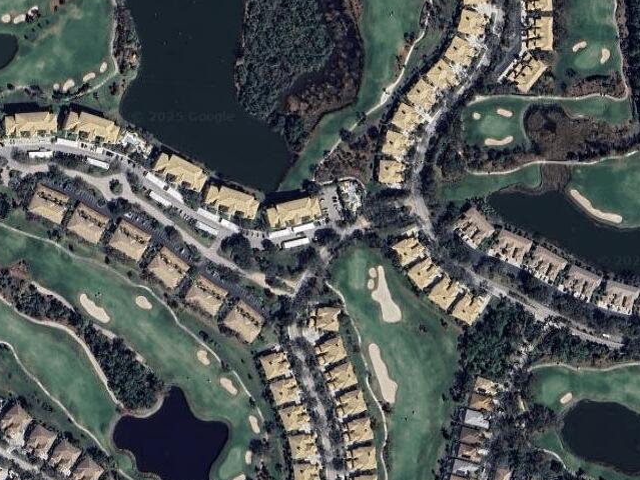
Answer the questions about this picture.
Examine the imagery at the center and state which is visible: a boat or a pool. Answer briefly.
pool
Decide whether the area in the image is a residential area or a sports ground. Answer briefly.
residential area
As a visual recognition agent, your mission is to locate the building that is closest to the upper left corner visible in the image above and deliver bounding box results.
[3,110,58,136]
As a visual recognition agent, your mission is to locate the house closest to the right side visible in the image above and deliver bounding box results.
[601,280,639,310]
